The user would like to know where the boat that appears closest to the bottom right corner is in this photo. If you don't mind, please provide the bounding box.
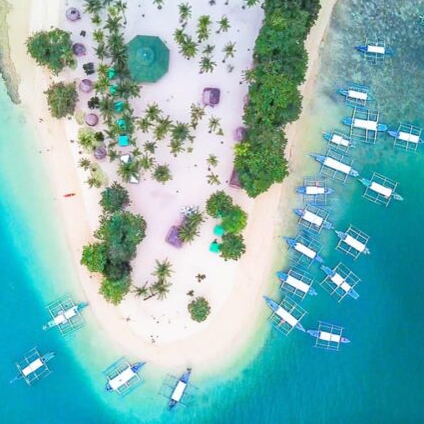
[308,320,351,351]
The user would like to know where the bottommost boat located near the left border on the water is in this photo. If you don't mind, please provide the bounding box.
[9,346,55,385]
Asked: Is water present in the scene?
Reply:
Yes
